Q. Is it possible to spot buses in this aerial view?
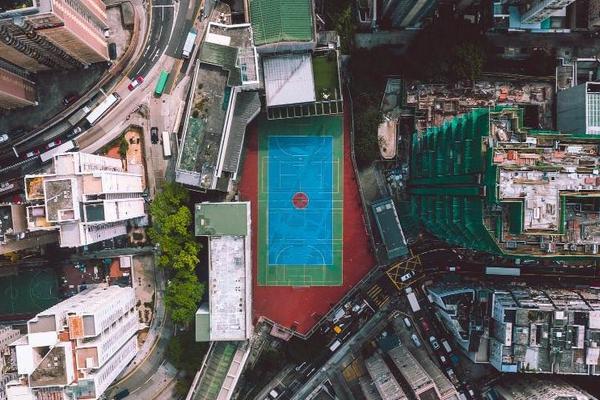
Yes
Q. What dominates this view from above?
buildings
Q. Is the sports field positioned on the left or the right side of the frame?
left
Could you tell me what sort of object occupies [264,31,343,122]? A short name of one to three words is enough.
building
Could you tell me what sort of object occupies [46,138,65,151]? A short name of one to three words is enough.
vehicle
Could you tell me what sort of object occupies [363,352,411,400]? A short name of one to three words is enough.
building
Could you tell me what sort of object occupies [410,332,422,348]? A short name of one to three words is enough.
vehicle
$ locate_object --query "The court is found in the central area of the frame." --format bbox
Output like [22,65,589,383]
[238,90,376,338]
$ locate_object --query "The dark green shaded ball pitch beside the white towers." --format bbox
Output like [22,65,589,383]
[0,261,60,329]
